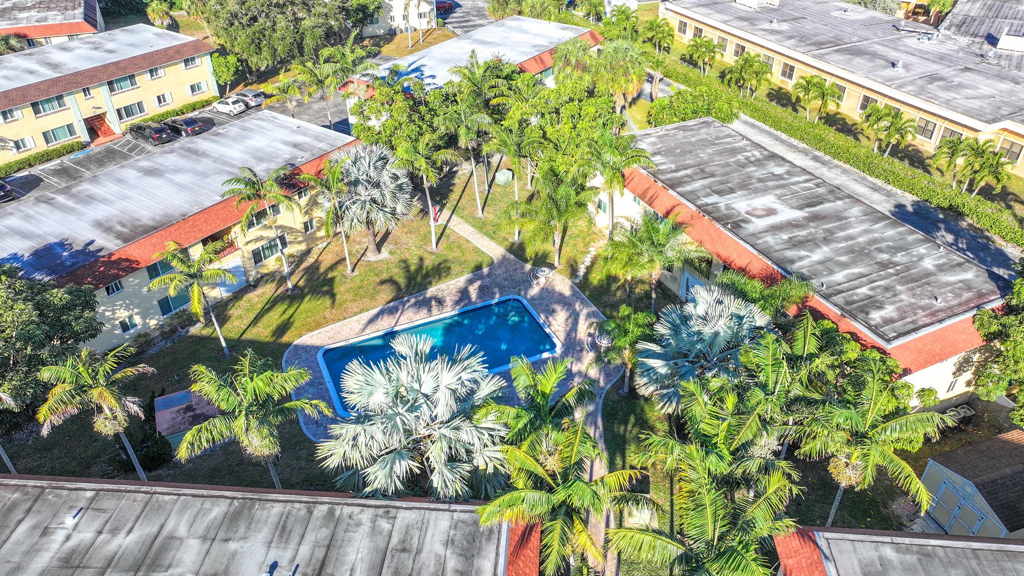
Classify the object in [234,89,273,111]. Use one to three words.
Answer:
car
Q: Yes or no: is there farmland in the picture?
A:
No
